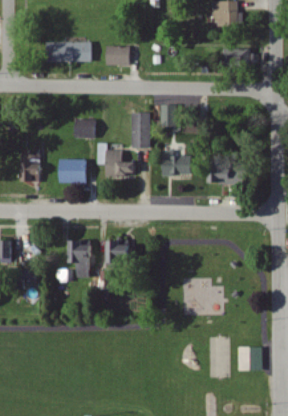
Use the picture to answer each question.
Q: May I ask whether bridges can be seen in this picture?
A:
No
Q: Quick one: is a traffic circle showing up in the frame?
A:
No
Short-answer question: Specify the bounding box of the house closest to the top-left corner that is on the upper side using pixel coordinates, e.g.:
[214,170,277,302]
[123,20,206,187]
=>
[47,41,92,62]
